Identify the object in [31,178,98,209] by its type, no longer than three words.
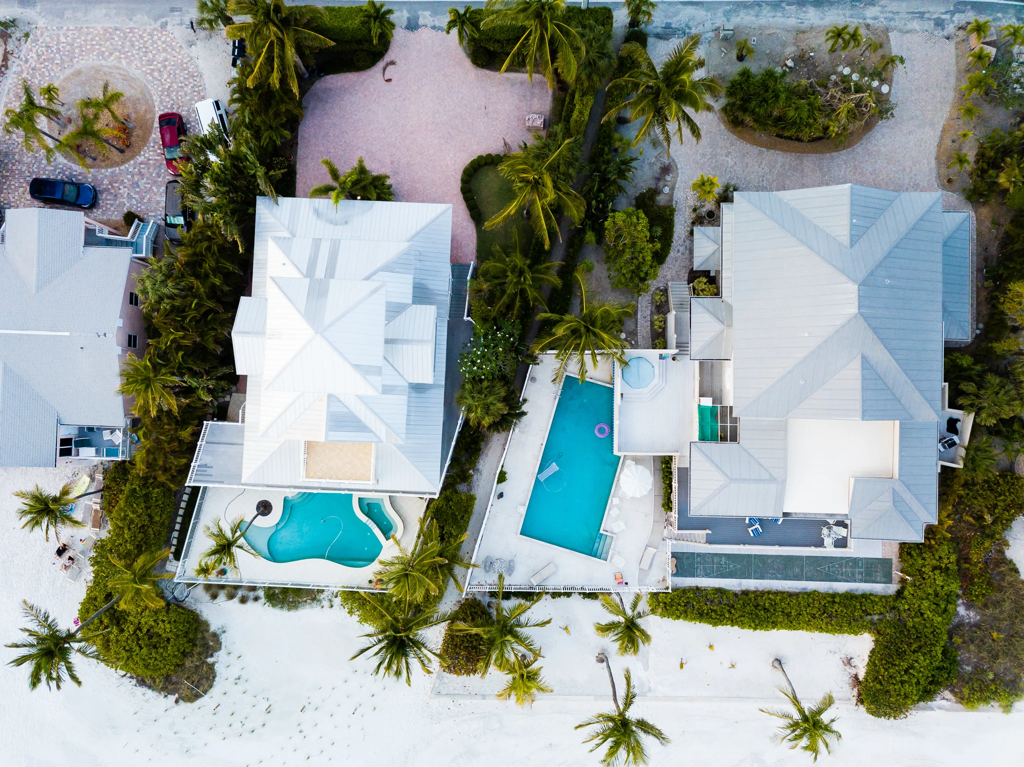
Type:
car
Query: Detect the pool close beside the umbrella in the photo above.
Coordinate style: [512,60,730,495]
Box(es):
[516,374,624,565]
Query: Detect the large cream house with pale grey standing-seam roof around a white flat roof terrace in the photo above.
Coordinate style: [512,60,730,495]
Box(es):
[612,183,976,552]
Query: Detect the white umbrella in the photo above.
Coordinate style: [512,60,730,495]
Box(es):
[620,463,650,493]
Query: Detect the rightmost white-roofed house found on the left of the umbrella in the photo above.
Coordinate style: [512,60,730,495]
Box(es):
[181,195,475,498]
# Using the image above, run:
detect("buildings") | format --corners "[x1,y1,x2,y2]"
[181,195,475,498]
[612,183,976,552]
[0,208,167,467]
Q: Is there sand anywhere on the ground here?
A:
Yes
